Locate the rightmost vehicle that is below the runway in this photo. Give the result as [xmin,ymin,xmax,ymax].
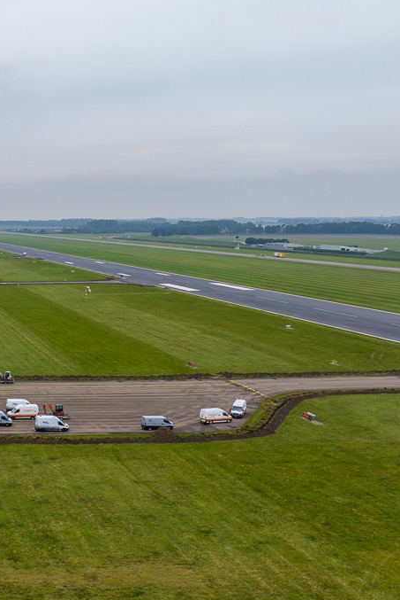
[224,399,243,418]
